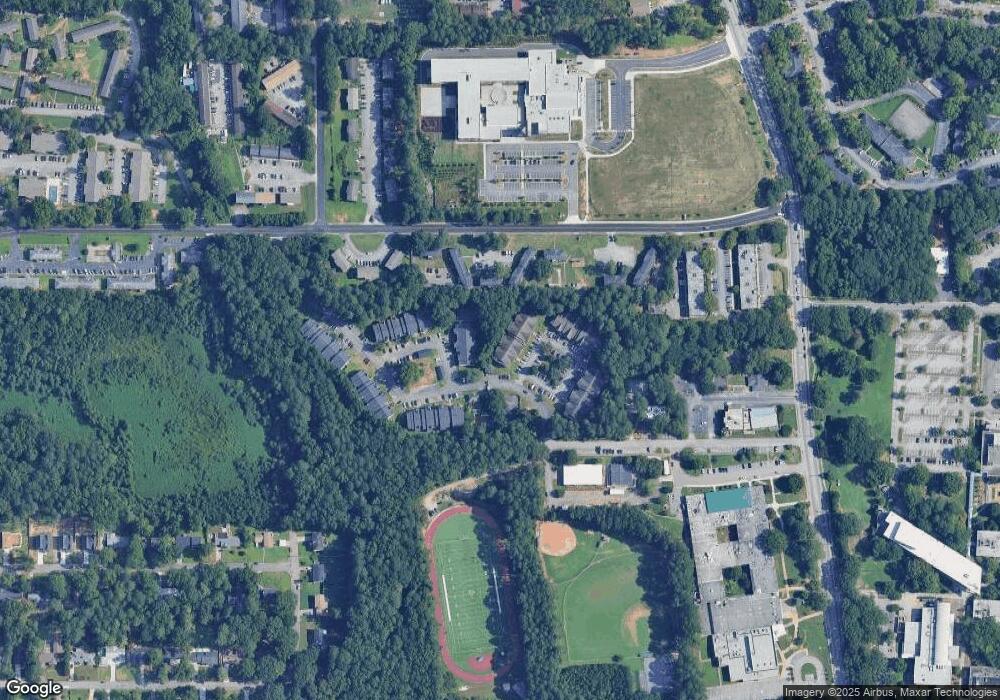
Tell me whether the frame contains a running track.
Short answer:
Yes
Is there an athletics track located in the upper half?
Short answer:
No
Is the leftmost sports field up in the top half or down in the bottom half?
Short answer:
bottom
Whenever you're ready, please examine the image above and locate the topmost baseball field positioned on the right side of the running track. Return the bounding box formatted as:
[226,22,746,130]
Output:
[537,520,646,583]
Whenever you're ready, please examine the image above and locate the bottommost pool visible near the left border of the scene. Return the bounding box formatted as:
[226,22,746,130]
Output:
[47,178,62,204]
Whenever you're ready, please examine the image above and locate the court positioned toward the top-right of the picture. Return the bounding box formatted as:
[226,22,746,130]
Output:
[890,99,934,139]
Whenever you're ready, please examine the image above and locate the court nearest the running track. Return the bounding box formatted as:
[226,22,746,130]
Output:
[644,656,669,692]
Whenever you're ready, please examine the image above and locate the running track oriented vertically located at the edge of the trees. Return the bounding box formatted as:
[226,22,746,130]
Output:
[425,502,519,683]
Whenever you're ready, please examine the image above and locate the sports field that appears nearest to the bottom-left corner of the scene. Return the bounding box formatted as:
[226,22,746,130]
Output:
[433,511,510,675]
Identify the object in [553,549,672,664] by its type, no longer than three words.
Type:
baseball field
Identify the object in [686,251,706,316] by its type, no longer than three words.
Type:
building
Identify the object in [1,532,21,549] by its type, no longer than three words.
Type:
house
